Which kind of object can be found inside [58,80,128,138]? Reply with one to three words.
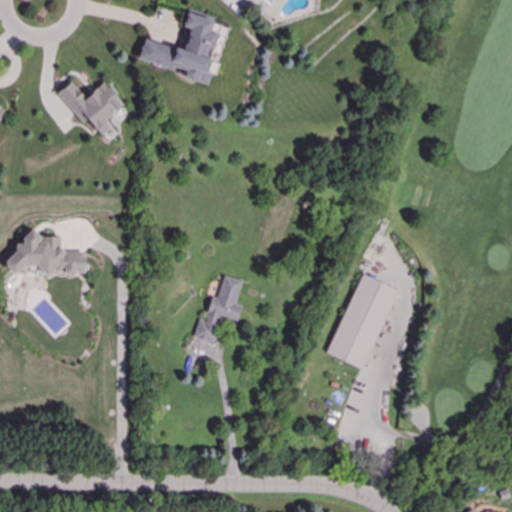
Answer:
house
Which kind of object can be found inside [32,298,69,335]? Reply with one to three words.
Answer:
swimming pool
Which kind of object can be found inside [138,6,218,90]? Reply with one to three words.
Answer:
house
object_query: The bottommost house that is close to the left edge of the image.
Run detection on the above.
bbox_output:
[2,230,90,278]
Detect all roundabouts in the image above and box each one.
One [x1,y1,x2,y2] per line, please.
[0,0,87,46]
